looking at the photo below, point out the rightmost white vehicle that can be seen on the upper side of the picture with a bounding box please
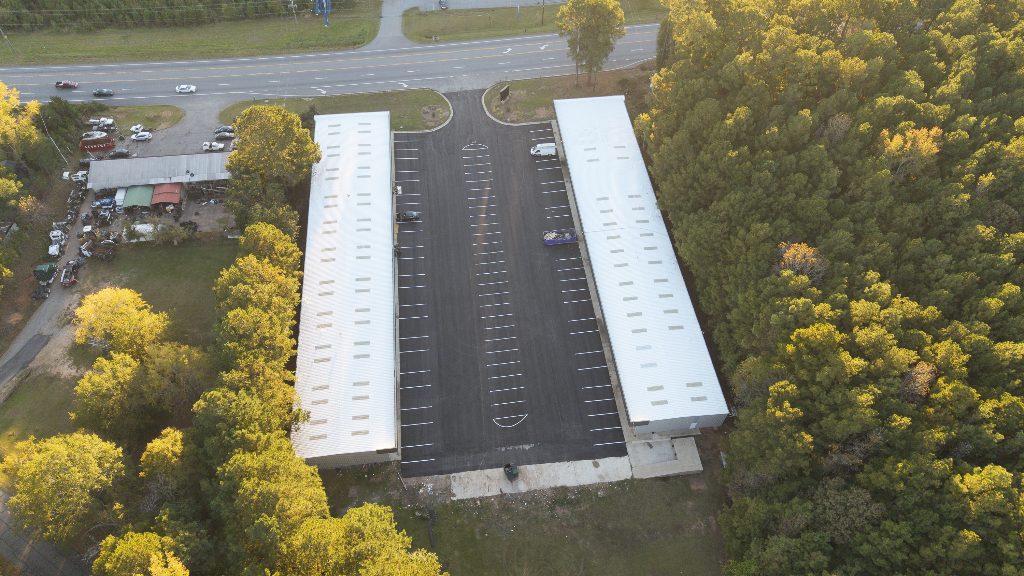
[530,143,556,158]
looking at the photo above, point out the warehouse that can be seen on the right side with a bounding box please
[552,95,729,433]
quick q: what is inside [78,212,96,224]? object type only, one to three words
vehicle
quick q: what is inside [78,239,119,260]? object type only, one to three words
truck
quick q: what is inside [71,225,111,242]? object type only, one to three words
work vehicle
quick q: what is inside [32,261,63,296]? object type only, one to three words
truck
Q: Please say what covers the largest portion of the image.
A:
trees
